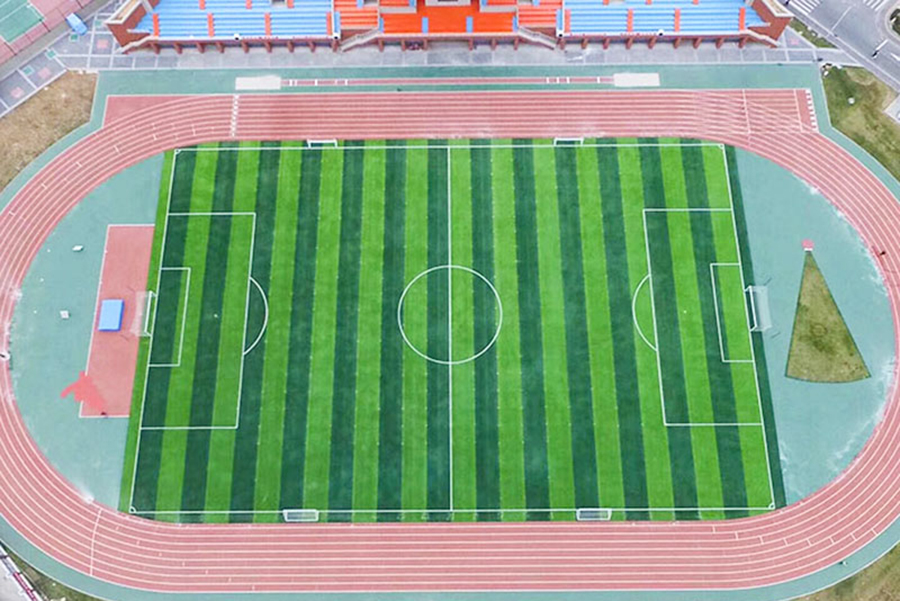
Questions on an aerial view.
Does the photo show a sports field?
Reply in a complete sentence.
Yes, you can see a sports field in this photo.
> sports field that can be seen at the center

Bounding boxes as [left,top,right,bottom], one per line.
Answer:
[115,136,789,524]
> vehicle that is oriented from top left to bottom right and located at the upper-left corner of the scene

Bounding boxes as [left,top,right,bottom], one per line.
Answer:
[67,13,86,34]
